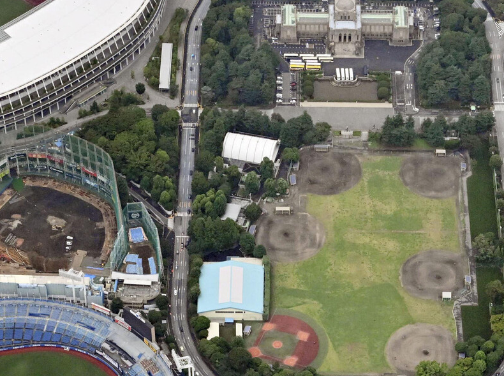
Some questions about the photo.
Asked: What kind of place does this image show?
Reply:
sports ground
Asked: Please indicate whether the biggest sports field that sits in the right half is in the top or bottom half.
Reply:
bottom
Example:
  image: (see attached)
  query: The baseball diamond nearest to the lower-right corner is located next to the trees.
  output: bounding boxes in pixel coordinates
[388,321,456,370]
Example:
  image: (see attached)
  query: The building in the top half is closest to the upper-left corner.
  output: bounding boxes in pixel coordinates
[161,43,174,93]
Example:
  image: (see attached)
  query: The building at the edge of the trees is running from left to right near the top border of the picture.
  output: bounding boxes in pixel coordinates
[269,0,421,56]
